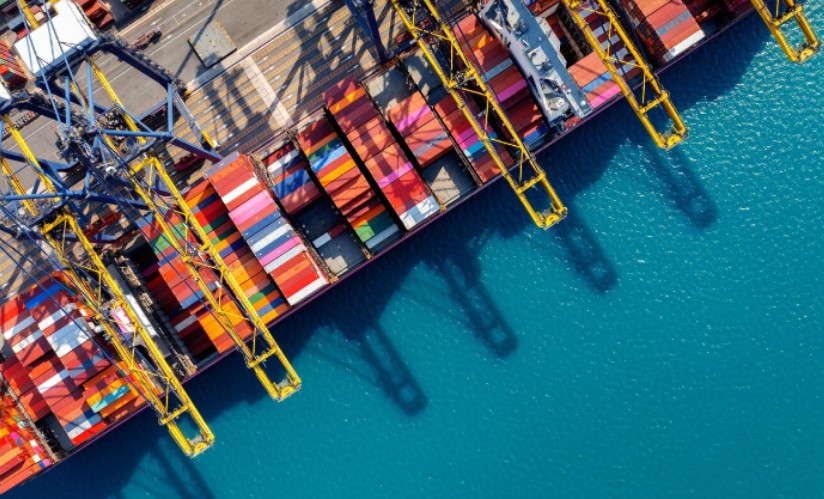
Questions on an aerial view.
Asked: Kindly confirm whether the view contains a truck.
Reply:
Yes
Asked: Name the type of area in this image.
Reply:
port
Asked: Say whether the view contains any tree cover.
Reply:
No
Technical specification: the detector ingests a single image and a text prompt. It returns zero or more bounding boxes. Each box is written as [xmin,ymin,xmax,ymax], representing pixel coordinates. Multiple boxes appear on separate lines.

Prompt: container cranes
[0,71,216,461]
[12,0,304,404]
[325,0,573,232]
[561,0,696,153]
[745,0,824,70]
